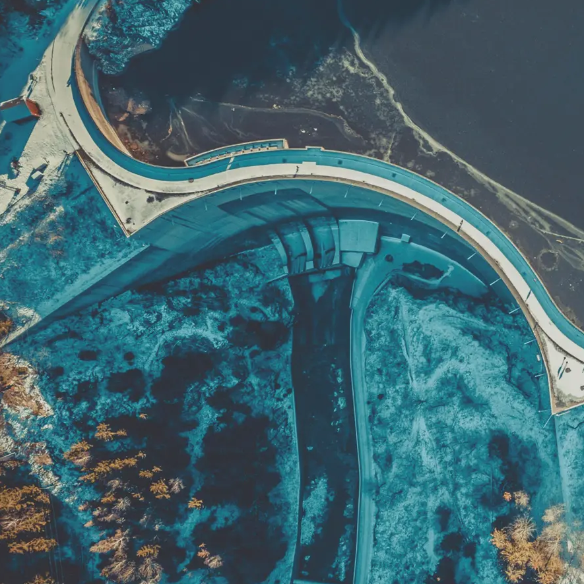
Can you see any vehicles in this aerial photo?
No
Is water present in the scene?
Yes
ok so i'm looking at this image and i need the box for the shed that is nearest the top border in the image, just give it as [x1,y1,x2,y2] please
[0,98,42,123]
